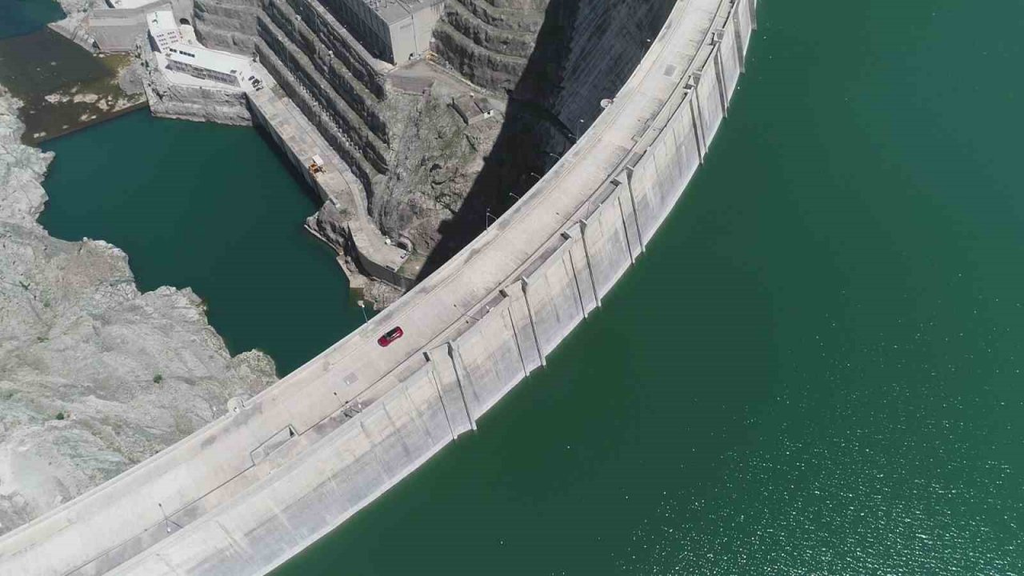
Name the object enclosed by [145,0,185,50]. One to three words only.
building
